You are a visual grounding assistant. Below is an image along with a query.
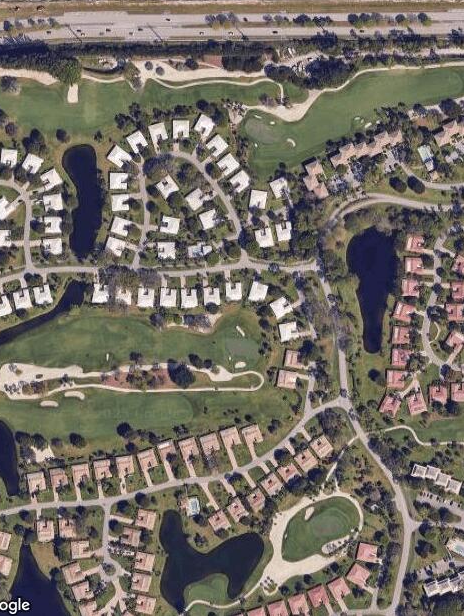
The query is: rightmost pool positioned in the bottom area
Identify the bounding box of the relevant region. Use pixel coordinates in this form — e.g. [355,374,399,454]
[447,537,464,556]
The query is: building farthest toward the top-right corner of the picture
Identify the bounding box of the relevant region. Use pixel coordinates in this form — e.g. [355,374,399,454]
[433,118,464,148]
